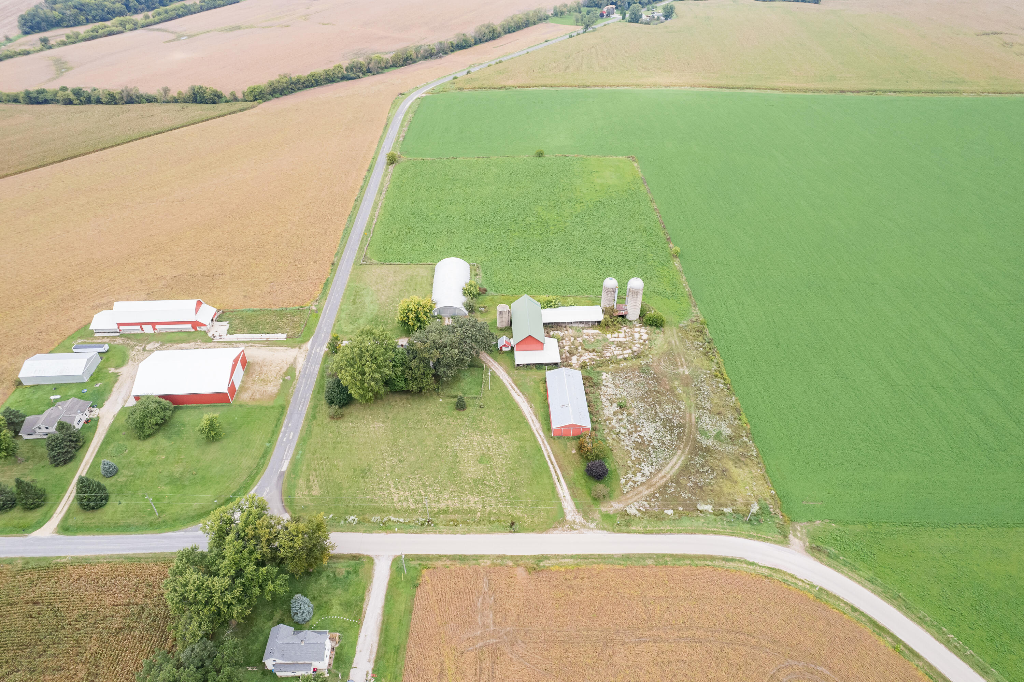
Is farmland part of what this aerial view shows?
Yes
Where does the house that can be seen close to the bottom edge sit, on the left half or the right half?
left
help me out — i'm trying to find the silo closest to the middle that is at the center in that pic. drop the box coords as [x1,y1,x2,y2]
[497,303,511,327]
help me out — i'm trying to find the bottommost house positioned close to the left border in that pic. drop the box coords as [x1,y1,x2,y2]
[19,394,93,439]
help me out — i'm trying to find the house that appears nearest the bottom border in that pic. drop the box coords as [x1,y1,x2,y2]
[263,622,331,676]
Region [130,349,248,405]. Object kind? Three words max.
shed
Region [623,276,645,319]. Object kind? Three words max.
silo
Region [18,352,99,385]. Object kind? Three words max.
shed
